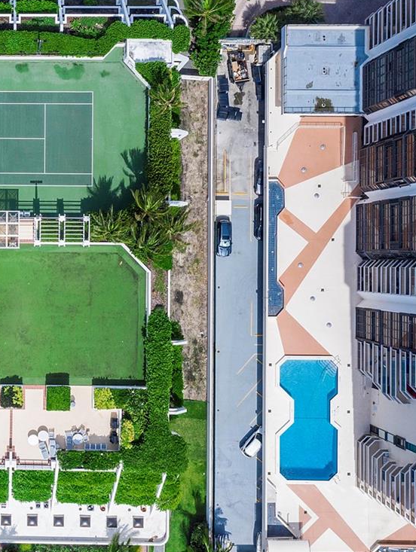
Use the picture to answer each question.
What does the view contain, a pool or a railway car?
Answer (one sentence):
It is a pool that can be seen here.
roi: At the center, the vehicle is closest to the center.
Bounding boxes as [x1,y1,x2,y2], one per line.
[214,218,233,255]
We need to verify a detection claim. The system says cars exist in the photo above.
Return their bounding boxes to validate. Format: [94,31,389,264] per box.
[255,526,264,552]
[214,218,233,255]
[236,425,264,455]
[252,159,264,194]
[252,201,264,240]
